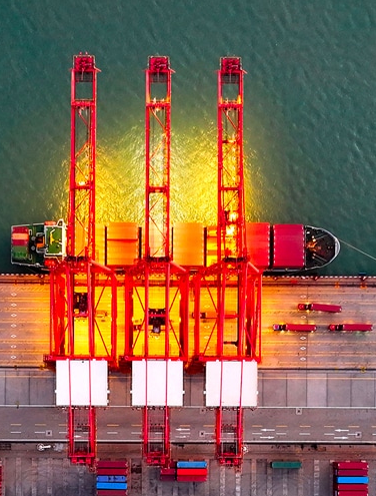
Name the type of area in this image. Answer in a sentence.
The area seen from above is a port.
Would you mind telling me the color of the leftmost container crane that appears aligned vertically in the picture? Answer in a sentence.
In this view, the leftmost container crane that appears aligned vertically is red.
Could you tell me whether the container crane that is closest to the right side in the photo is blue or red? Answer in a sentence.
From above, the container crane that is closest to the right side appears red.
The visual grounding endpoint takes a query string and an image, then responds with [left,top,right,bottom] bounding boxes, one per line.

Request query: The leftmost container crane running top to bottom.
[39,49,125,476]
